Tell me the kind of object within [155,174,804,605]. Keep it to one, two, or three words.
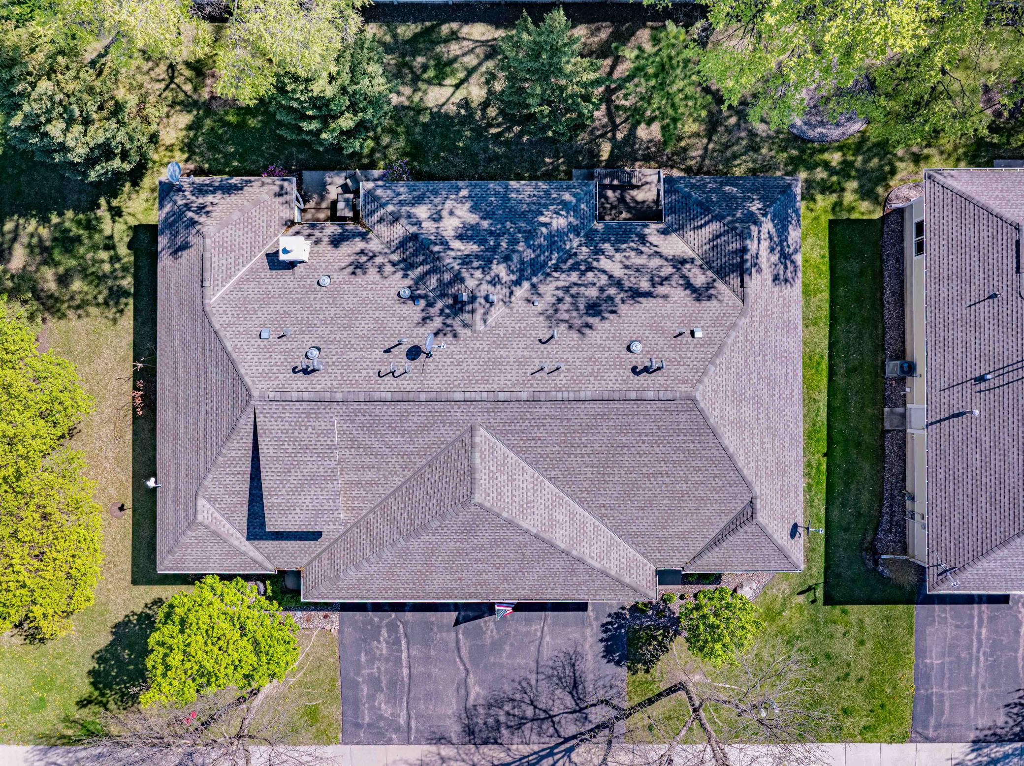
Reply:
house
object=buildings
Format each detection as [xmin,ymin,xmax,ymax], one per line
[880,170,1024,596]
[155,174,804,605]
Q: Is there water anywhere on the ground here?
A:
No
